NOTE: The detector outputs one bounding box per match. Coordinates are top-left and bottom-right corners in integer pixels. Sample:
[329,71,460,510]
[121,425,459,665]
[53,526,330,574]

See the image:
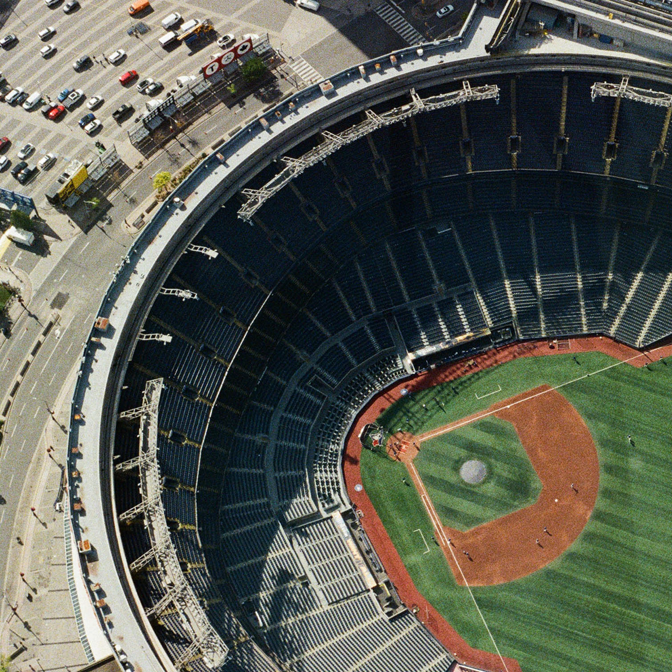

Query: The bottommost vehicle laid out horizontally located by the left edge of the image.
[4,226,37,244]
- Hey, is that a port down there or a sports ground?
sports ground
